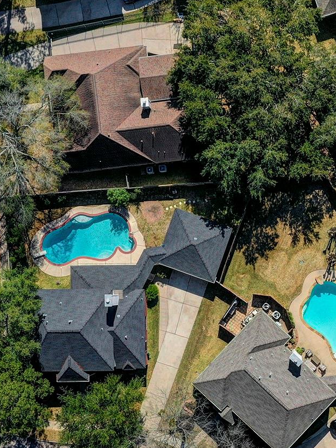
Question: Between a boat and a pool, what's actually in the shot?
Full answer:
Of the two, only a pool appears.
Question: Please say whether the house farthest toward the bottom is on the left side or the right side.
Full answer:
The house farthest toward the bottom sits on the right side.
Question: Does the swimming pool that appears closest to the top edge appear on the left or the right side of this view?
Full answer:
It is on the left.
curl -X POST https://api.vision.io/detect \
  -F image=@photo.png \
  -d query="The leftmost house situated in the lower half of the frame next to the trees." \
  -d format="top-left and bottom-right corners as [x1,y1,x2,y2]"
[37,208,233,382]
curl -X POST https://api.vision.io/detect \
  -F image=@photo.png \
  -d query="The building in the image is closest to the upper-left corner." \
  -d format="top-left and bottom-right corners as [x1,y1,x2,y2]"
[43,45,186,174]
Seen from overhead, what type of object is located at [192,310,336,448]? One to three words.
house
